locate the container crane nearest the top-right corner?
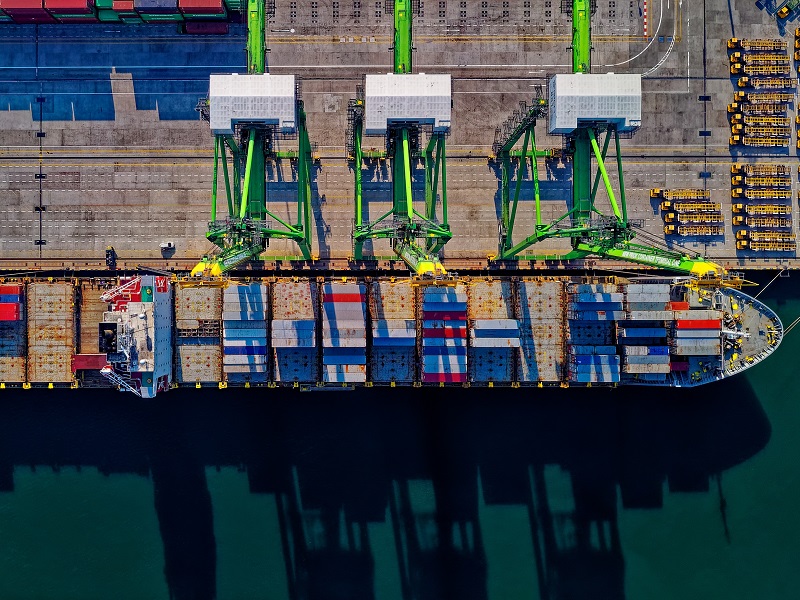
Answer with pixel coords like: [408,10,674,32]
[482,0,756,291]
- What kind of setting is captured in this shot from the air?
port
